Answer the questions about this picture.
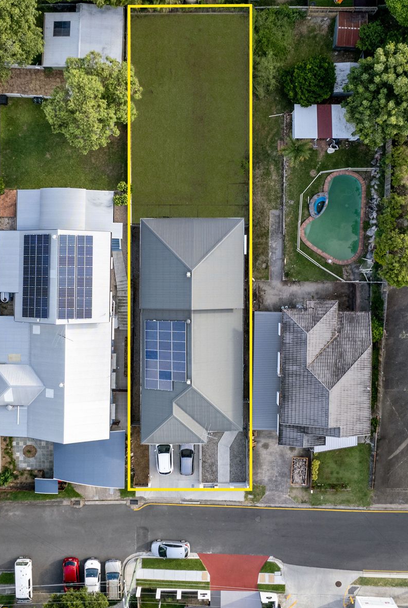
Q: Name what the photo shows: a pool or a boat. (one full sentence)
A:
I can see a pool in this picture.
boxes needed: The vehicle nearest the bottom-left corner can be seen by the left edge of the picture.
[11,553,35,604]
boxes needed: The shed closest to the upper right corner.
[333,11,367,54]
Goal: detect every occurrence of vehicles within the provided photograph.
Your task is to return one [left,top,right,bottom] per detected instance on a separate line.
[153,444,176,476]
[11,553,35,604]
[101,552,124,607]
[150,537,191,561]
[60,555,82,599]
[81,554,104,602]
[175,444,197,475]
